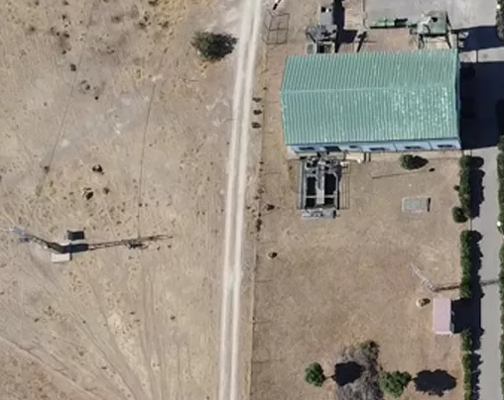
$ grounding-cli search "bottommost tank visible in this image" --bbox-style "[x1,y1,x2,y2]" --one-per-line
[299,153,341,222]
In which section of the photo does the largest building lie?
top right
